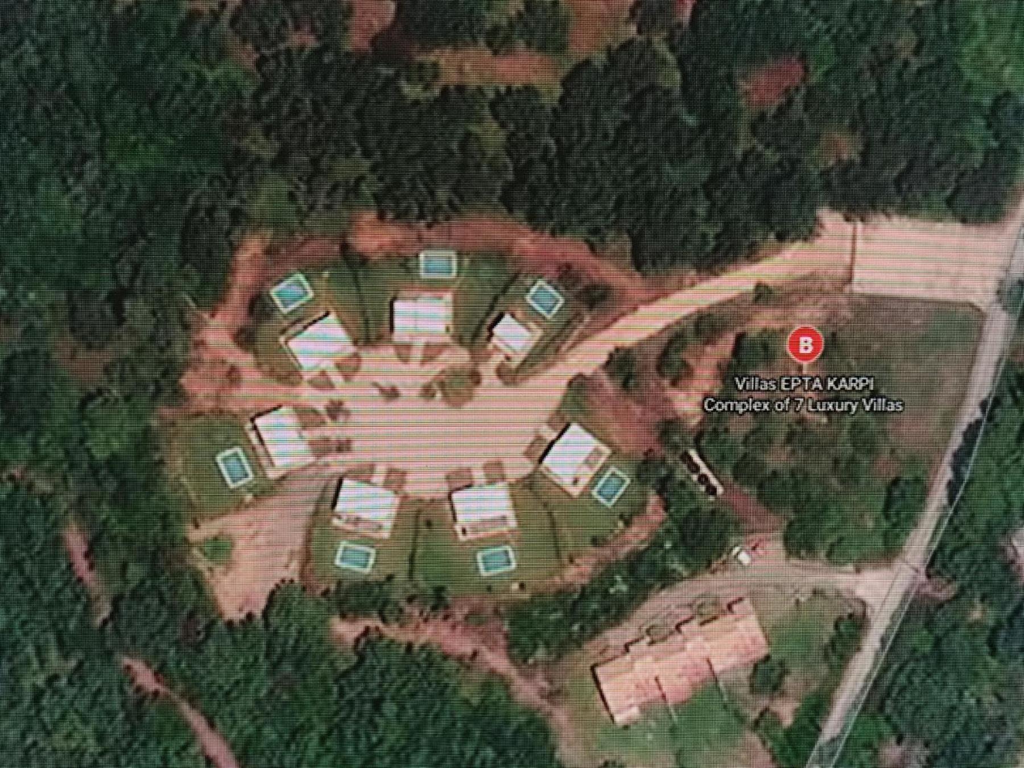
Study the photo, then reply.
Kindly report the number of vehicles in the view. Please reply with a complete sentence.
I count 1 vehicle.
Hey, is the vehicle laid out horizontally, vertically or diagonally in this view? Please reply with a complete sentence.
The vehicle is laid out diagonally.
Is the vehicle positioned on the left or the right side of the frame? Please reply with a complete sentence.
The vehicle appears in the right half of the scene.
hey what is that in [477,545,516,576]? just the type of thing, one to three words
swimming pool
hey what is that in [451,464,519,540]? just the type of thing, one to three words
house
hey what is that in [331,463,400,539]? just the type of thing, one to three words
house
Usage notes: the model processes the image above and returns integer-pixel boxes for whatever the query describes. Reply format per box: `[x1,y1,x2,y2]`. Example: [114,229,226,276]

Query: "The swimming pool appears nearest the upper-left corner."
[270,273,313,314]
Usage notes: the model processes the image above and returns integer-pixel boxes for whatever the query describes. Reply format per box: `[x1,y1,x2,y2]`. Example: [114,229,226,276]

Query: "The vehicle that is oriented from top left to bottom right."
[730,544,753,568]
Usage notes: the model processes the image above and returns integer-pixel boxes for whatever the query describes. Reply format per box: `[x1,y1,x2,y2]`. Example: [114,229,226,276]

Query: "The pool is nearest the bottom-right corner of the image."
[591,466,632,508]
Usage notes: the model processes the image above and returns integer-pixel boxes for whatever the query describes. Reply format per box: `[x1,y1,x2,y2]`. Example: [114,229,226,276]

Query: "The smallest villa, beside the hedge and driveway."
[488,302,544,360]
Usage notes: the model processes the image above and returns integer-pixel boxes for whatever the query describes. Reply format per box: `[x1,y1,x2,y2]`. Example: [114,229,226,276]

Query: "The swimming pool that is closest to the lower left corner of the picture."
[215,446,253,489]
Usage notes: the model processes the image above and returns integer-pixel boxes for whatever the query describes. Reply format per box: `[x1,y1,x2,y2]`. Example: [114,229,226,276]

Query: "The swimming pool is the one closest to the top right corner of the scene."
[525,279,565,319]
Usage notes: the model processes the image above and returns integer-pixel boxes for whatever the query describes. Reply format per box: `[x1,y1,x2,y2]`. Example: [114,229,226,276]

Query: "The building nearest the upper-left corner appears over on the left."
[283,305,356,376]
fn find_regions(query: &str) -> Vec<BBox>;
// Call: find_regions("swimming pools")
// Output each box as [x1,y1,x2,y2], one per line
[525,279,565,319]
[335,540,376,573]
[420,251,456,279]
[591,466,632,508]
[215,446,253,489]
[270,273,313,314]
[477,545,516,576]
